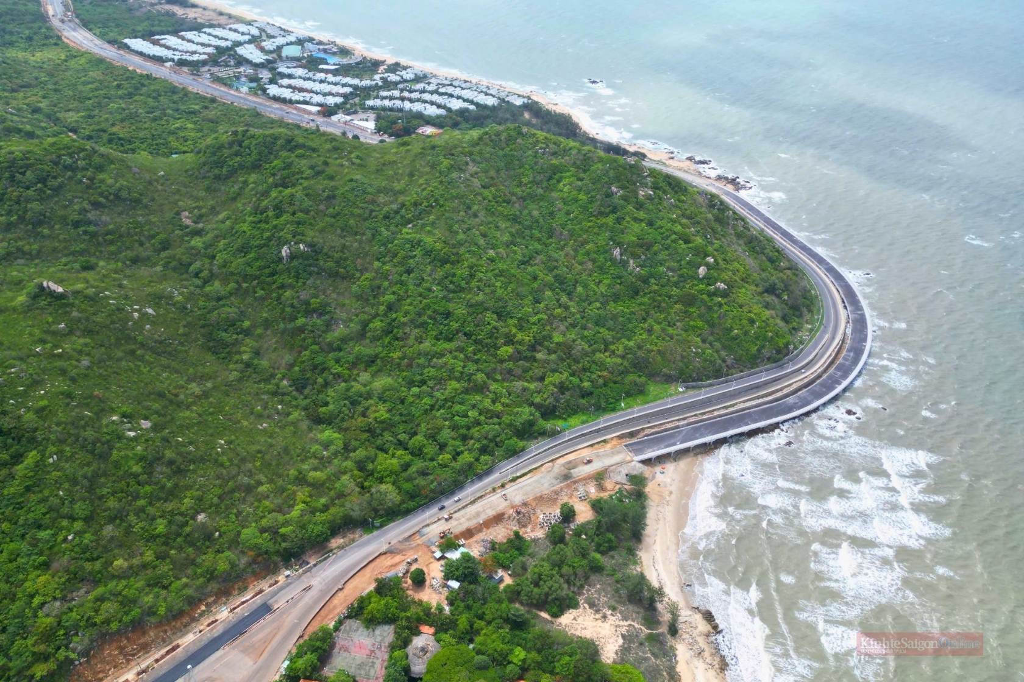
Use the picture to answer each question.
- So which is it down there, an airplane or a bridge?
bridge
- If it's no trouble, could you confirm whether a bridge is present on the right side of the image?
Yes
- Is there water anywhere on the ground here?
Yes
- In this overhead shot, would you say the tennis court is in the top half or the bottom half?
bottom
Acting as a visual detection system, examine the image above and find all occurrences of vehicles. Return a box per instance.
[443,513,453,520]
[583,456,593,463]
[438,525,457,539]
[437,503,447,510]
[452,496,461,502]
[511,501,521,517]
[501,491,508,499]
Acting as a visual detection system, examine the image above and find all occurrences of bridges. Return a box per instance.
[623,191,869,461]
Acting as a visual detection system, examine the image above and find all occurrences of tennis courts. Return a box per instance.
[332,619,397,682]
